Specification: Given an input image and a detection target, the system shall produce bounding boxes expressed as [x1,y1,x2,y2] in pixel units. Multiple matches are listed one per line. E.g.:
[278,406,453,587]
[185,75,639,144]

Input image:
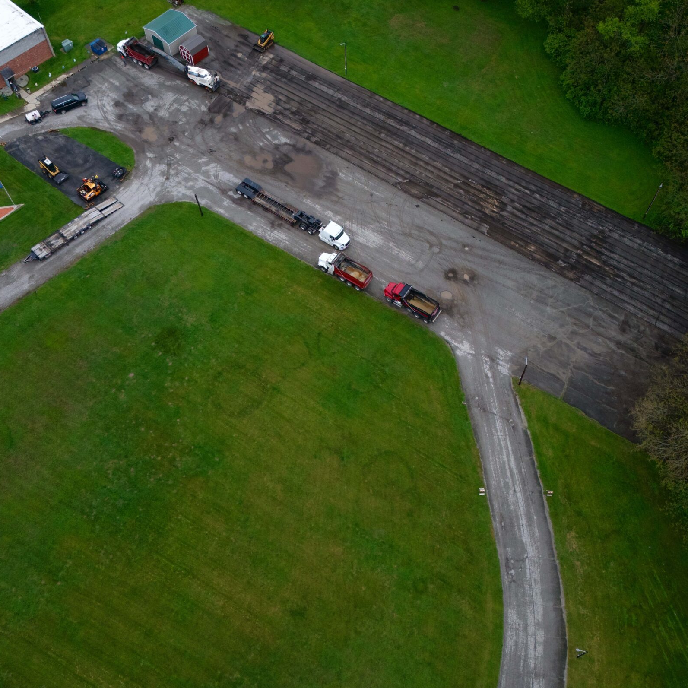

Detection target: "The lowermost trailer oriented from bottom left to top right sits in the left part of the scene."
[26,193,122,264]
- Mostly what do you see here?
grass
